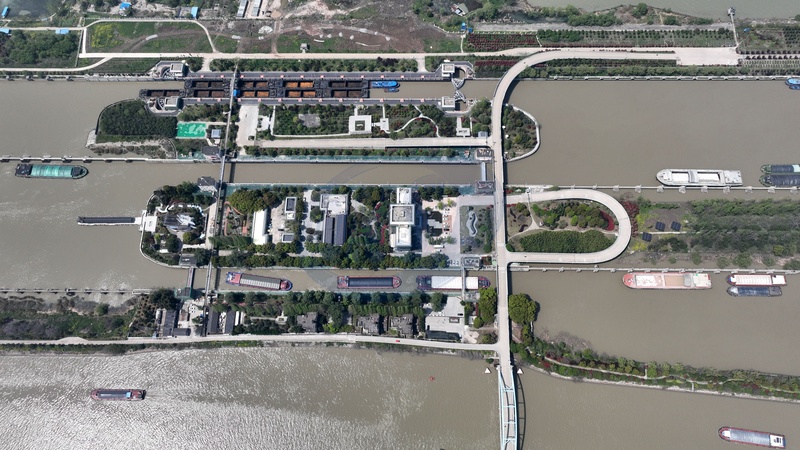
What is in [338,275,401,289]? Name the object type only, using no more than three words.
ship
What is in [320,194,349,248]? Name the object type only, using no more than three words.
building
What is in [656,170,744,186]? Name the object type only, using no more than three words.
ship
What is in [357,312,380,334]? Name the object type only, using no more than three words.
house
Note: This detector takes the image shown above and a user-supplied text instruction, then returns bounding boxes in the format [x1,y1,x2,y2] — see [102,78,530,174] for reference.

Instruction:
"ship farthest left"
[13,164,89,179]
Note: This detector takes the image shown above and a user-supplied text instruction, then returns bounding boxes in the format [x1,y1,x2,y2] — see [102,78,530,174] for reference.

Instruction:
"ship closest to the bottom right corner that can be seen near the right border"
[718,426,786,448]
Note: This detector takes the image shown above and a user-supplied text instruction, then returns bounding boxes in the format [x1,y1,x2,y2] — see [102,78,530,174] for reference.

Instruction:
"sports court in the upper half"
[175,121,208,138]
